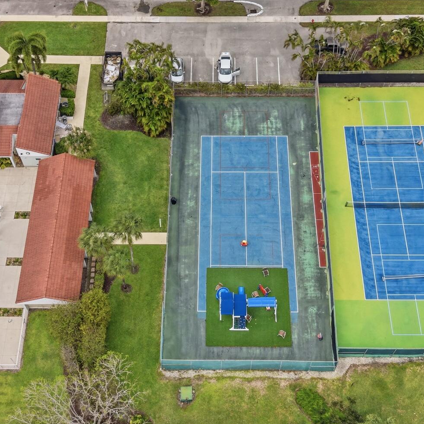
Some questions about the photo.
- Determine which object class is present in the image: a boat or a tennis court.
tennis court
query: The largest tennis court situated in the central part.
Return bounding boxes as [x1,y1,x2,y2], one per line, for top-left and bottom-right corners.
[163,97,332,368]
